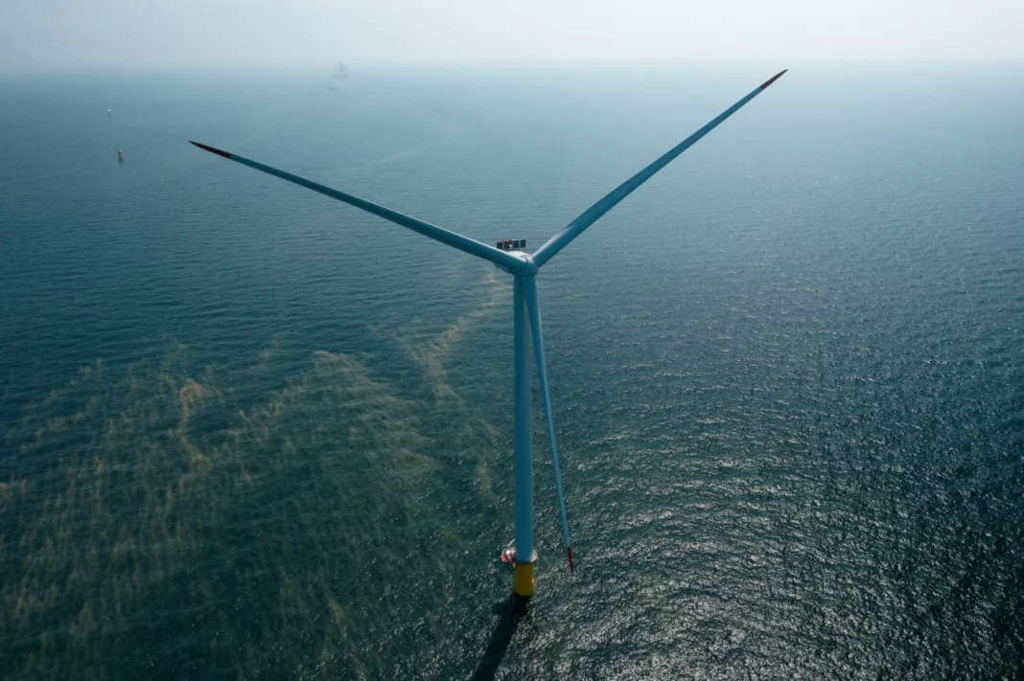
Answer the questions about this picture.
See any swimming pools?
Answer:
No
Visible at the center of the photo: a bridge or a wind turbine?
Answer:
wind turbine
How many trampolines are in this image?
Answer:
none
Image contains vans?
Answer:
No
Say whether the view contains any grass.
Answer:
No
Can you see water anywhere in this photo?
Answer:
Yes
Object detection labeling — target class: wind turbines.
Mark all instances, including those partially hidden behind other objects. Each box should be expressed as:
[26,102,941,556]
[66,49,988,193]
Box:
[191,67,789,596]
